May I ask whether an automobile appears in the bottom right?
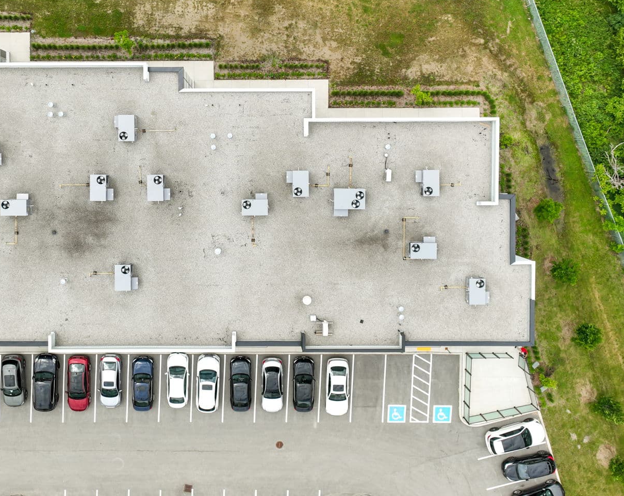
Yes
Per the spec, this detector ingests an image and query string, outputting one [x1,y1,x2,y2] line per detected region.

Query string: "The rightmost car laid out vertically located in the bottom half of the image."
[326,359,351,415]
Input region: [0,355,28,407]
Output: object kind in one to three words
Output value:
car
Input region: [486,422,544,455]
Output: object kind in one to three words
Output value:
car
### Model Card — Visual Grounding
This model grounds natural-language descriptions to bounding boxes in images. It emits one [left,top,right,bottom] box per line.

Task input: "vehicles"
[65,356,92,411]
[260,358,285,411]
[97,355,123,407]
[502,450,557,484]
[195,354,221,412]
[292,356,318,412]
[486,422,544,455]
[326,359,351,415]
[0,355,28,407]
[165,353,191,409]
[32,354,59,412]
[228,356,254,412]
[129,356,155,411]
[511,482,565,496]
